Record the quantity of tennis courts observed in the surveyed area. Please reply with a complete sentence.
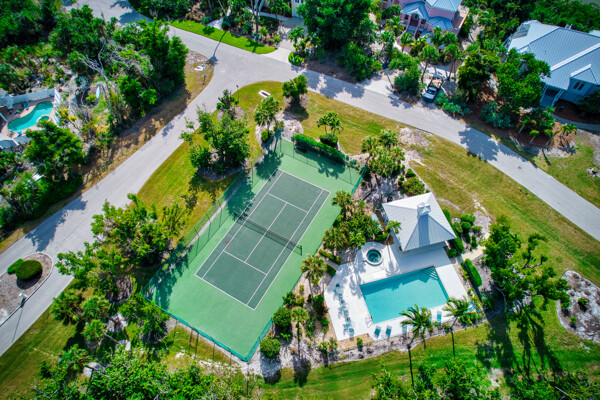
The photo contains exactly 1 tennis court.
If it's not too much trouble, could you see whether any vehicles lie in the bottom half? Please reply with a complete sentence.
No, I see no vehicle in the bottom half.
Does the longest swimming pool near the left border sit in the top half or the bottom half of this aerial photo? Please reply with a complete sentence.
You can find the longest swimming pool near the left border in the top half.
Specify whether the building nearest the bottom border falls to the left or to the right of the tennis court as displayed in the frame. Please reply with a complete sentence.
Relative to the tennis court, the building nearest the bottom border is on the right.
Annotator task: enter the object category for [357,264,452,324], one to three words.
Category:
swimming pool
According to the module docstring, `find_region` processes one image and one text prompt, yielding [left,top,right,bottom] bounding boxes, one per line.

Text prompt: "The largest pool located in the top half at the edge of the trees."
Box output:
[6,101,54,131]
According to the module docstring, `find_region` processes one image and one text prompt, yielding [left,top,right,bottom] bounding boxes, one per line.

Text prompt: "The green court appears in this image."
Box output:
[148,139,366,365]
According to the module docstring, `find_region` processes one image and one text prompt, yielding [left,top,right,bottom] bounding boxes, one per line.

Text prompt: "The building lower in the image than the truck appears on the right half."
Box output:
[382,193,456,255]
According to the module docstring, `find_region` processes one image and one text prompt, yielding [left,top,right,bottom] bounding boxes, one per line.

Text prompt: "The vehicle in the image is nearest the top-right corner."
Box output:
[421,75,446,102]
